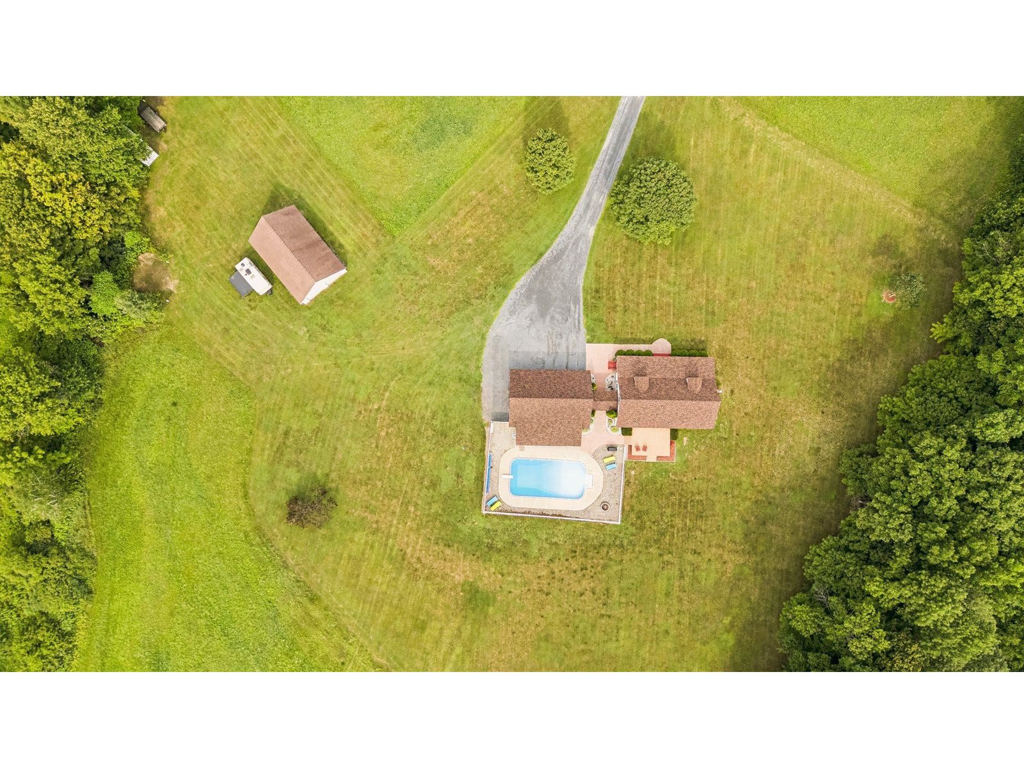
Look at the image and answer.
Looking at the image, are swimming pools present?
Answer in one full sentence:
Yes, looking at the shot, I can spot a swimming pool.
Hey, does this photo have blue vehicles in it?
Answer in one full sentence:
No, no blue vehicle can be seen from above.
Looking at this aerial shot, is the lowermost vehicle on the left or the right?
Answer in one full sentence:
It is on the left.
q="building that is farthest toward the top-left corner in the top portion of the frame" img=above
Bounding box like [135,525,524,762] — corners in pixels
[249,203,348,305]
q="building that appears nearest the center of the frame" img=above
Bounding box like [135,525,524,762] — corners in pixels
[509,369,593,446]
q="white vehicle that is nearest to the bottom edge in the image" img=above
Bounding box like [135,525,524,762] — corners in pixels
[232,257,277,299]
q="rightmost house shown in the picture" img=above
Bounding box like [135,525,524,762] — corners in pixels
[607,353,721,429]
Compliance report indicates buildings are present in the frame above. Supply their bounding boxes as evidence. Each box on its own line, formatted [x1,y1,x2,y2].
[249,203,348,305]
[509,369,593,446]
[607,353,721,429]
